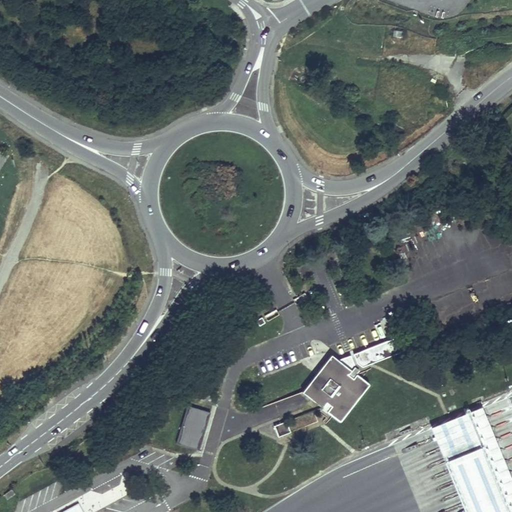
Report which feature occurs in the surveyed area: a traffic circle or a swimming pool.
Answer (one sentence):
Of the two, only a traffic circle appears.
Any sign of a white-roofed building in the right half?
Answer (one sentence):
Yes, you'll find a white-roofed building in the right half.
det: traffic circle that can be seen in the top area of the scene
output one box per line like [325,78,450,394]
[106,70,354,304]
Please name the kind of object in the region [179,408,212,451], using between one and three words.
building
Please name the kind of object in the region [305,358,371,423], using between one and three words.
building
